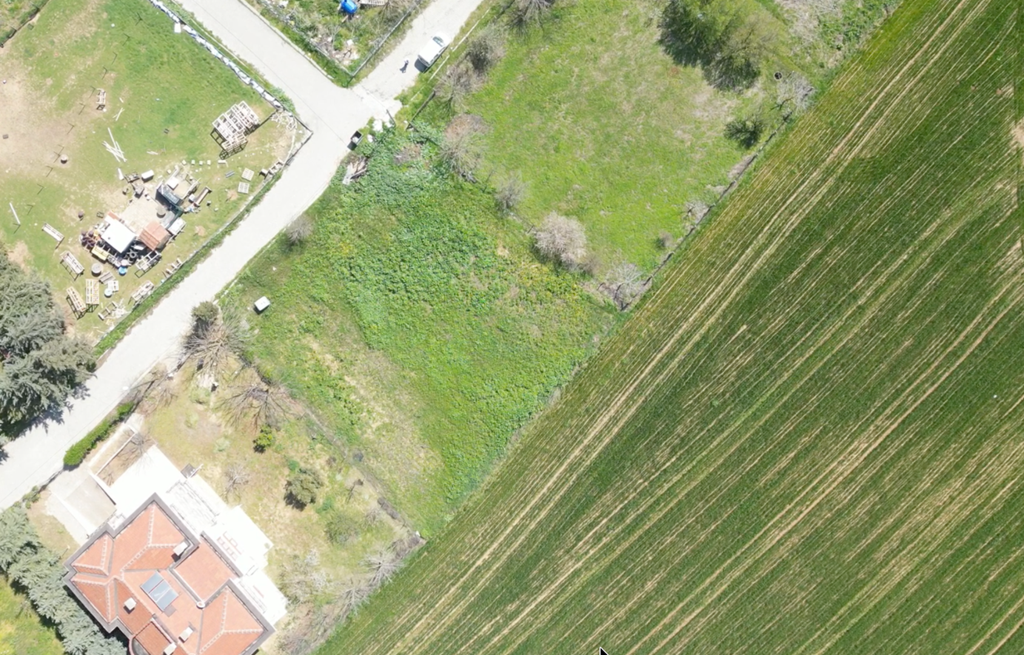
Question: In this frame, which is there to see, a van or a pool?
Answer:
van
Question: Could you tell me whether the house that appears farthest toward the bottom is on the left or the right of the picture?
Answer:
left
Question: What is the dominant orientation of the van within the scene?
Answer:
on a diagonal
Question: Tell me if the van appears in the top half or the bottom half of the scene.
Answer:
top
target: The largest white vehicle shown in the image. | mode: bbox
[418,33,453,68]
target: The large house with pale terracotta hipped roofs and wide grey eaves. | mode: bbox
[62,492,275,655]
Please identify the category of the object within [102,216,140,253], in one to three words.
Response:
shed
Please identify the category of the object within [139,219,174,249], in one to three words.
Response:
shed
